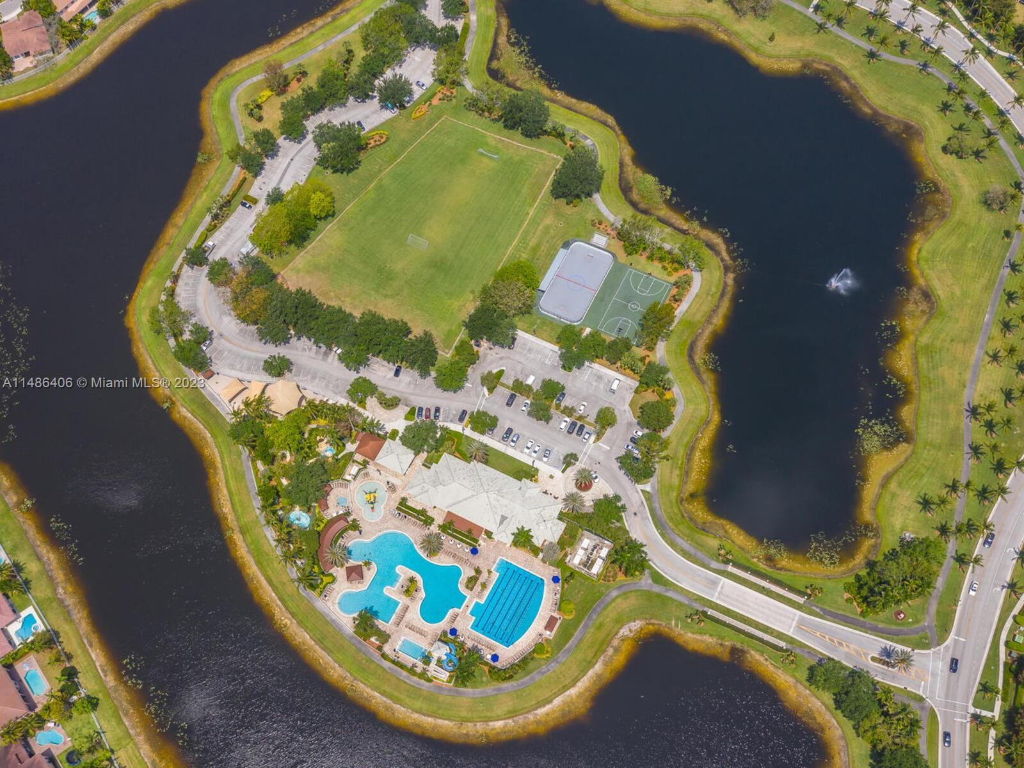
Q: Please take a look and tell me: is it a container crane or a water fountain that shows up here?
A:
water fountain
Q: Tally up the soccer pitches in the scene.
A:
one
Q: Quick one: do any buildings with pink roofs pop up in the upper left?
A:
Yes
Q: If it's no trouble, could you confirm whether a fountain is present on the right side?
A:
Yes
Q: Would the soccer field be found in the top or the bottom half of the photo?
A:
top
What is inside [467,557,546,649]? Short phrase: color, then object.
blue swimming pool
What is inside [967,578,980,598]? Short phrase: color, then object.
white vehicle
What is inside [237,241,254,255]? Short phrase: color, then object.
white vehicle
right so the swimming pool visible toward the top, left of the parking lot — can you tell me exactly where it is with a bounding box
[84,9,100,24]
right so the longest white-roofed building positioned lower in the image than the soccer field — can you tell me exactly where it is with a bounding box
[405,453,566,547]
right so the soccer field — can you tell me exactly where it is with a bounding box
[281,116,562,356]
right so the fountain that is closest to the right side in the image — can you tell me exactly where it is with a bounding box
[821,263,861,297]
